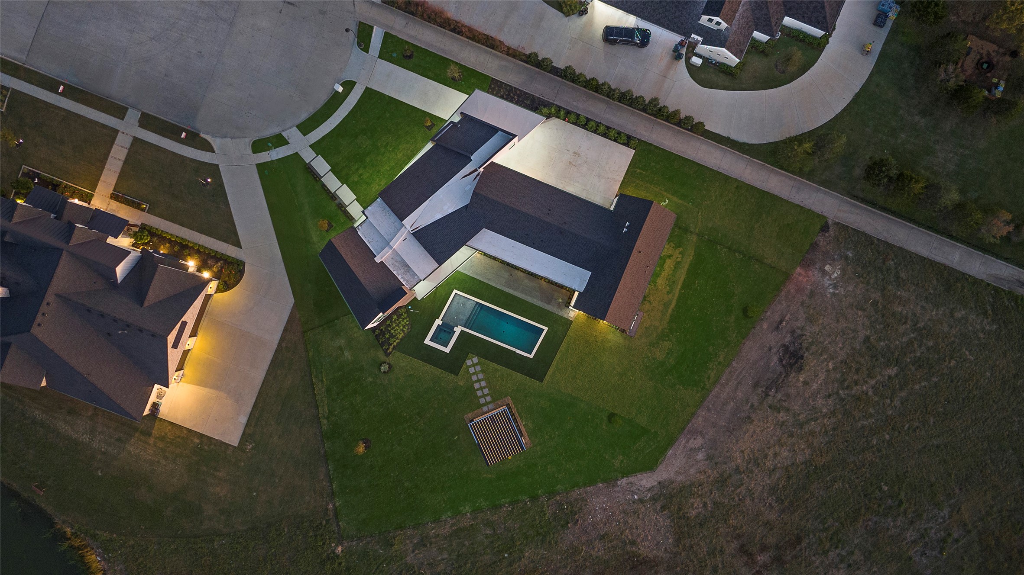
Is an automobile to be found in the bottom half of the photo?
No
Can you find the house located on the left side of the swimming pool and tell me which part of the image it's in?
left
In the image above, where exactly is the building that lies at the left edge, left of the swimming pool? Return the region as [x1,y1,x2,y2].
[0,186,229,423]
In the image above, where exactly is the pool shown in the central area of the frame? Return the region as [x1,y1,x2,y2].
[424,290,548,358]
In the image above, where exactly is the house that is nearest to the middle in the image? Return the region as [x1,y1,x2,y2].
[319,89,677,330]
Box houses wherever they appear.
[0,186,229,423]
[319,89,677,330]
[598,0,845,67]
